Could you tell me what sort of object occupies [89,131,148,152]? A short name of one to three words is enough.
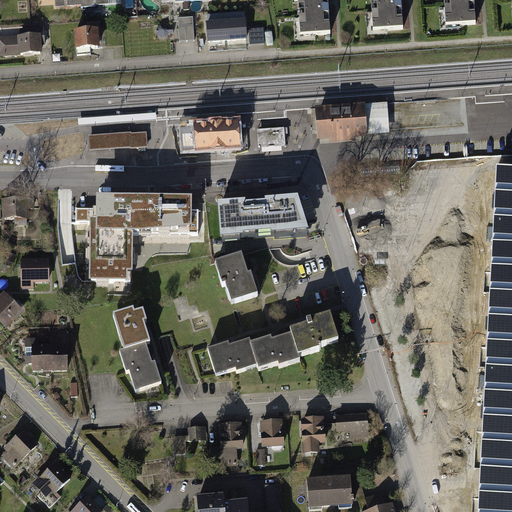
shed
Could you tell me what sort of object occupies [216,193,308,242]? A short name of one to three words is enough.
building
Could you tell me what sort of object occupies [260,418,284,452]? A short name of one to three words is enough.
house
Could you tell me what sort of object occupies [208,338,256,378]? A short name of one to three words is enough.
building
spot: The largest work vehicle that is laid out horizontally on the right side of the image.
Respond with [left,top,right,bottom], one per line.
[355,224,385,236]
